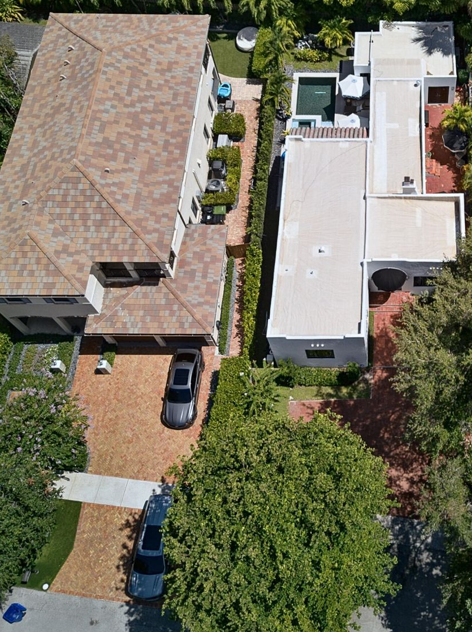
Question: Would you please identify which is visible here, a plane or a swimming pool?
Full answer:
The image shows a swimming pool.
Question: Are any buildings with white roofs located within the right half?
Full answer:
Yes, the scene does show a building with a white roof within the right half.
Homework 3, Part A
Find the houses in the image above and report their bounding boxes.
[0,12,233,346]
[267,25,467,366]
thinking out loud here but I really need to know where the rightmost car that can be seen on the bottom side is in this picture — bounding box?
[159,351,206,431]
